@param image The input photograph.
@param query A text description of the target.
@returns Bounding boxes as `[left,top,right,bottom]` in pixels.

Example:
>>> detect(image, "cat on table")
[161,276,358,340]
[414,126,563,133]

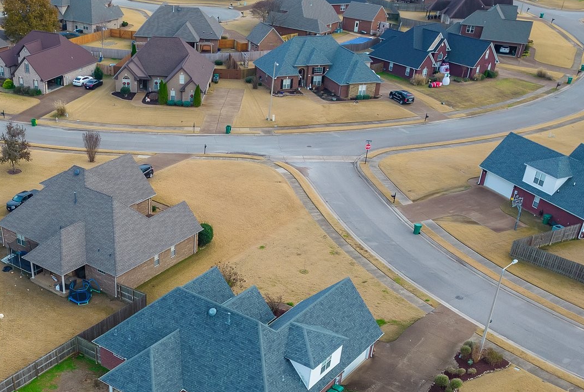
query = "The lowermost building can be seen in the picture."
[92,244,384,392]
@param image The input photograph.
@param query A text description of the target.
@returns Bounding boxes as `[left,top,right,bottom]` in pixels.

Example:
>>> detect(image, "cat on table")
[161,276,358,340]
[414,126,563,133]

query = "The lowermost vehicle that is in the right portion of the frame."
[387,89,417,104]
